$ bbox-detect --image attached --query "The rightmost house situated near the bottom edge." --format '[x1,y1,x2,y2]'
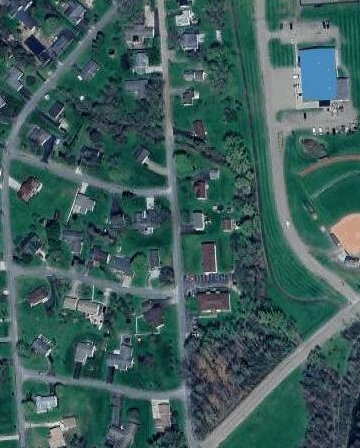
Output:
[151,400,174,431]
